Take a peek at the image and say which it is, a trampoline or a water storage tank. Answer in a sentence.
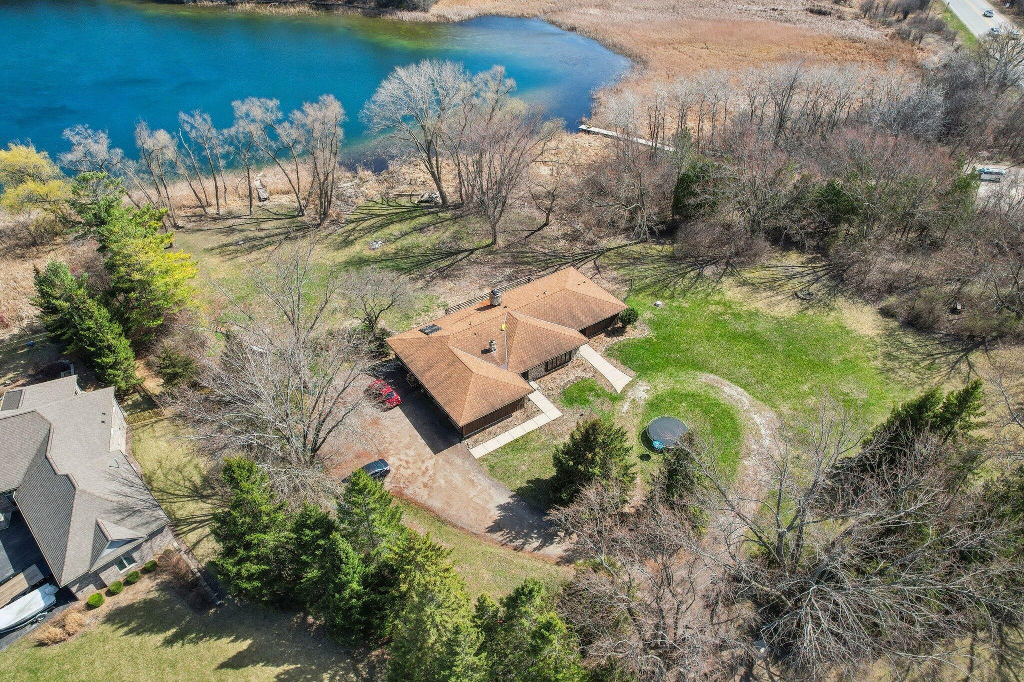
Looking from above, you can make out a trampoline.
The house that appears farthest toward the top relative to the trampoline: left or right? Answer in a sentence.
The house that appears farthest toward the top can be seen on the left of the trampoline.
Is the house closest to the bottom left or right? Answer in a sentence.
The house closest to the bottom sits on the left side.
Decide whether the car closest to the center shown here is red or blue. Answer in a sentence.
The car closest to the center is red.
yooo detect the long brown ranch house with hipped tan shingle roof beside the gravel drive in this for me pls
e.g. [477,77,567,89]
[384,266,629,440]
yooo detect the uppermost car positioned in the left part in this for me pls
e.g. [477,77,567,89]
[367,381,403,411]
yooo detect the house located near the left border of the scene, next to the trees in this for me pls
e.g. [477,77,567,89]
[0,375,174,600]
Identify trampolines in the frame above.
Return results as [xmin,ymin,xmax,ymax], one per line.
[646,417,687,453]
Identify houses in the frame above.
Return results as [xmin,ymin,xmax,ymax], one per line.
[0,375,174,600]
[384,266,629,440]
